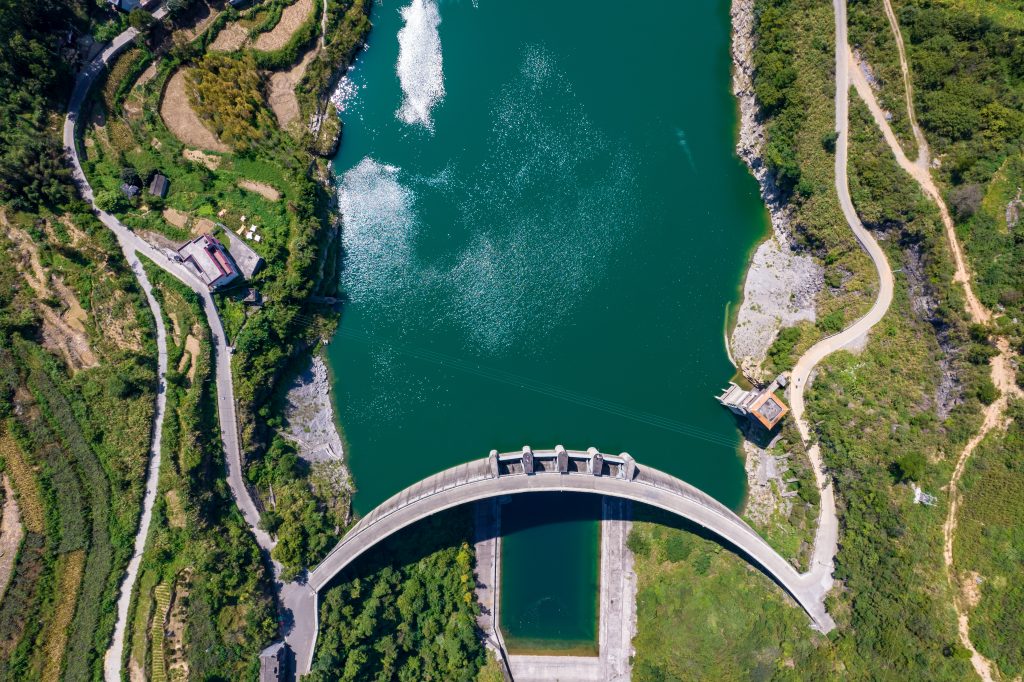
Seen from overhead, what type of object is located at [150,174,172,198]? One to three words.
shed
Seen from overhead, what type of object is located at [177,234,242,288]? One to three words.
house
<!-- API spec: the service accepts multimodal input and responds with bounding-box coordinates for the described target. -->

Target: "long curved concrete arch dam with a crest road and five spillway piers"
[304,443,836,627]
